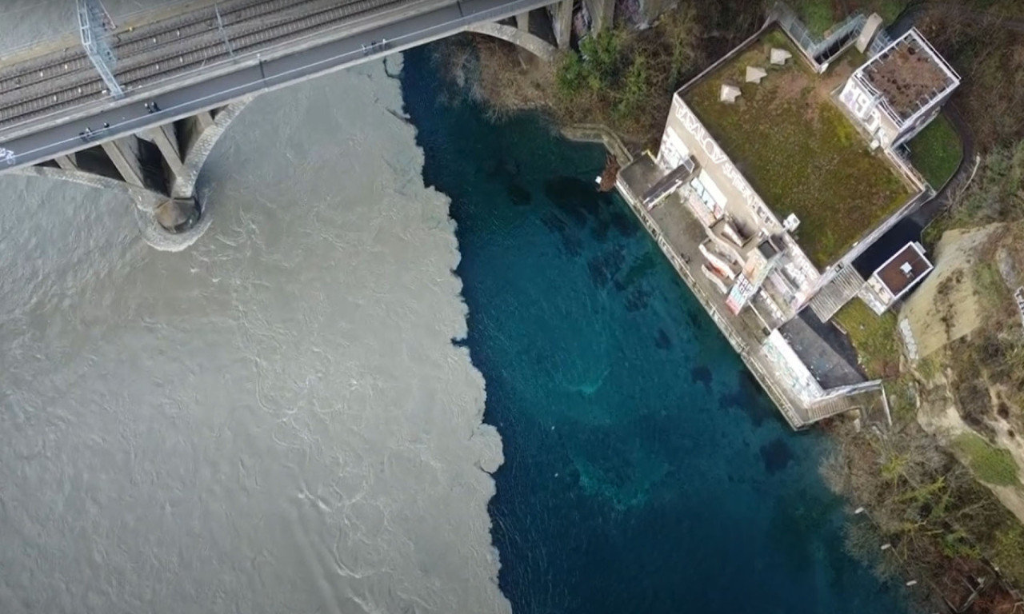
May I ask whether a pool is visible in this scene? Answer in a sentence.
No, the picture doesn't show any pool.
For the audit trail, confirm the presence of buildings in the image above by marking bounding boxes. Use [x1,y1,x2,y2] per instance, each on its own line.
[658,24,931,350]
[860,241,933,316]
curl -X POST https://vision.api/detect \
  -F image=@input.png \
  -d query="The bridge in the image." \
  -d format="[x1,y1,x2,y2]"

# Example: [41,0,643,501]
[0,0,659,231]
